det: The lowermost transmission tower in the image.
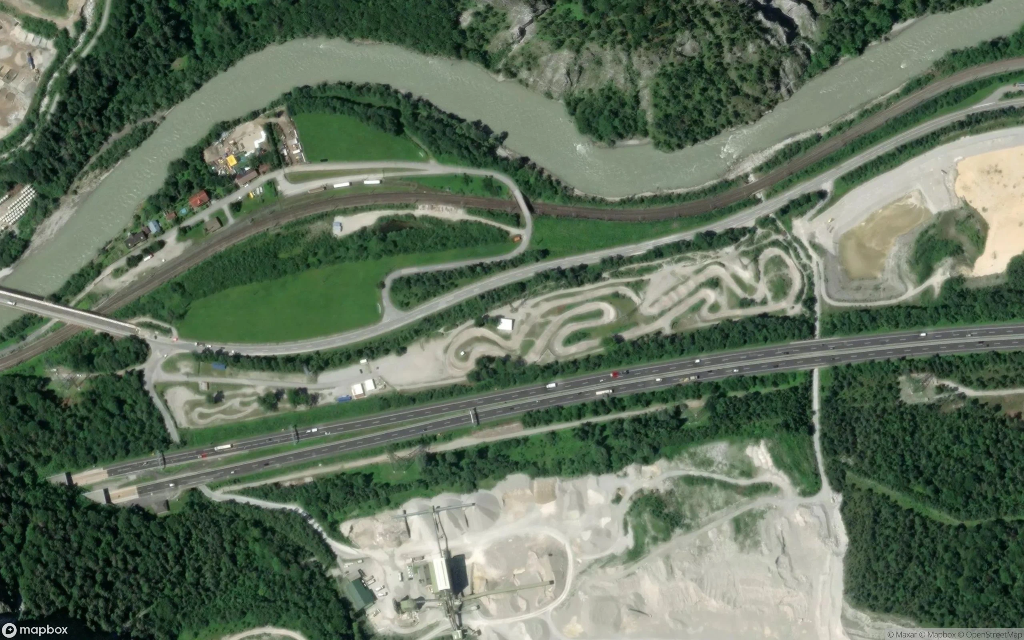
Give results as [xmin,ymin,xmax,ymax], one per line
[388,441,405,473]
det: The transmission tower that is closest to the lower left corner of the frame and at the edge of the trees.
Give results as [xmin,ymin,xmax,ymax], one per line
[55,361,80,392]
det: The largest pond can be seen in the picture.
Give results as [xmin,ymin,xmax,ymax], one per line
[838,195,931,280]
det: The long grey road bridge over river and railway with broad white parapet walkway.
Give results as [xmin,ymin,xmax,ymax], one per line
[0,291,138,338]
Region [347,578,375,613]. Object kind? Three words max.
building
